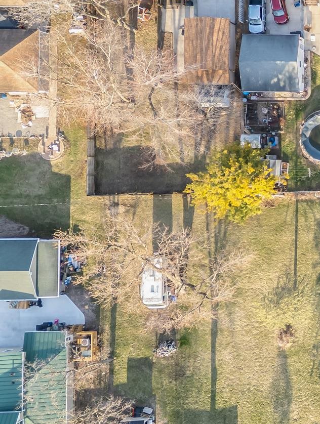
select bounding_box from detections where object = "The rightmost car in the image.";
[270,0,289,25]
